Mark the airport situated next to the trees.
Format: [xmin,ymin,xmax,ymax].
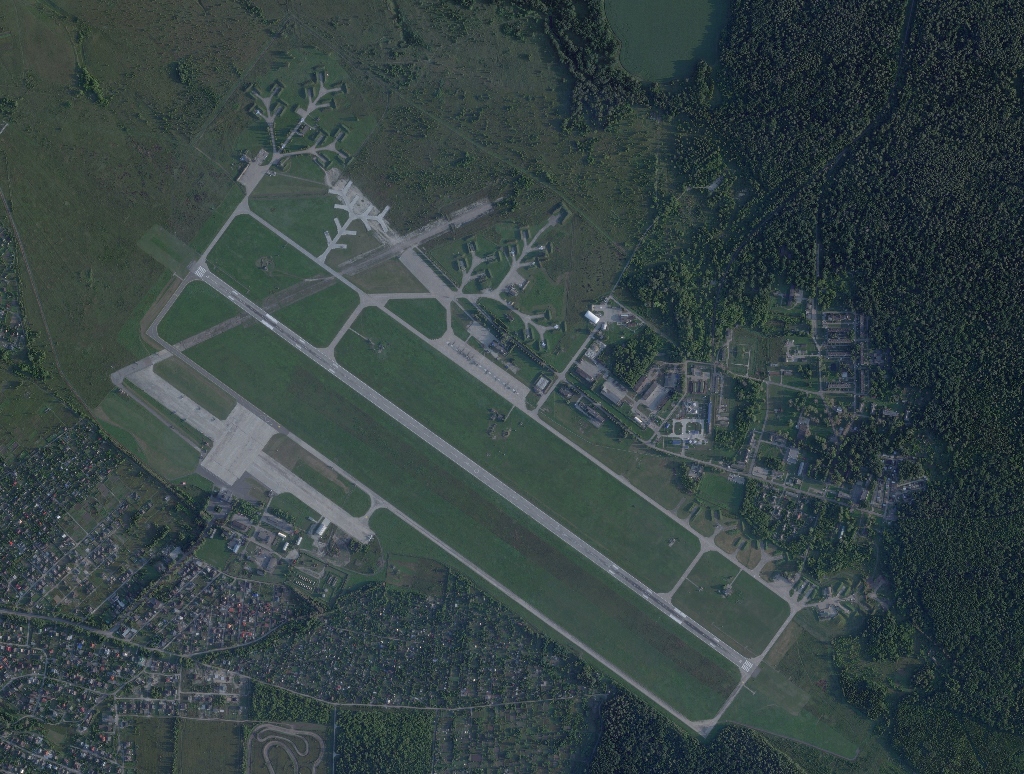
[111,72,854,738]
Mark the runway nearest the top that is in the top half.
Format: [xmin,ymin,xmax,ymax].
[338,198,493,276]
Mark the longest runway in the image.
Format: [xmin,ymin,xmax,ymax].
[192,264,756,674]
